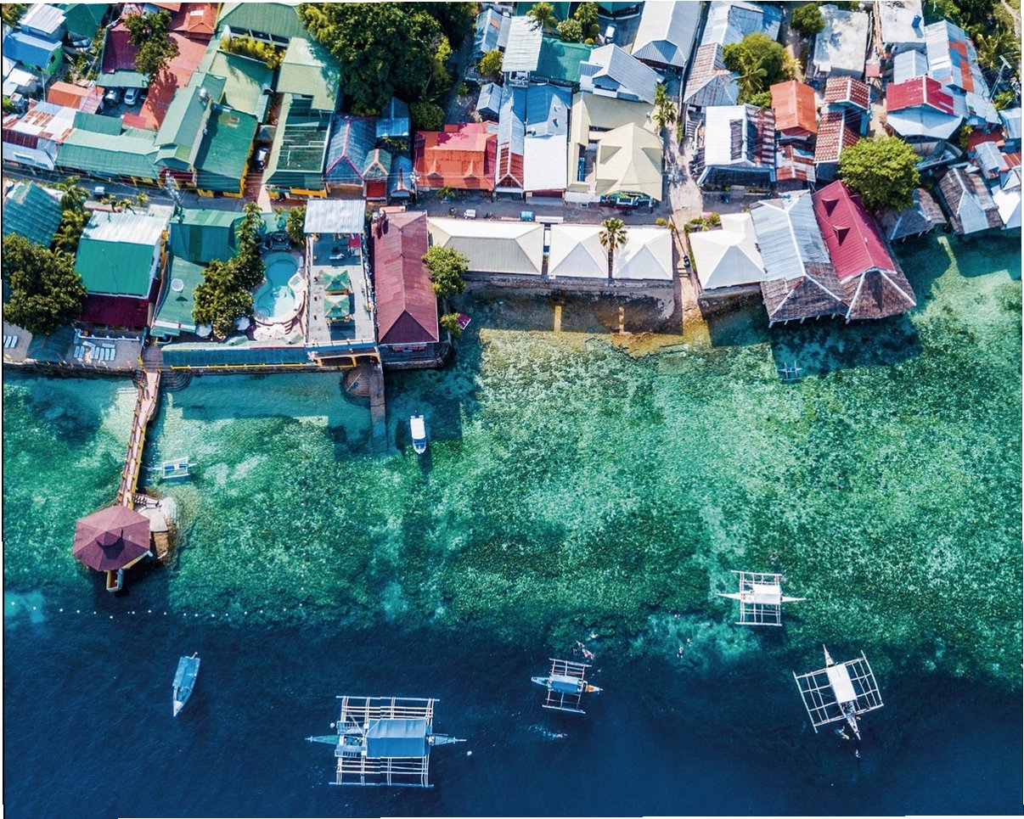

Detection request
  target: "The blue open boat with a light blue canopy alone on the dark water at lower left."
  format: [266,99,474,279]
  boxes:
[171,651,198,718]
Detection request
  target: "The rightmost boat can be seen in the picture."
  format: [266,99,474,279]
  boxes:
[793,645,886,741]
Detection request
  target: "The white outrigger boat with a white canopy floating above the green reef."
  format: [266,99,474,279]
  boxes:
[718,571,808,626]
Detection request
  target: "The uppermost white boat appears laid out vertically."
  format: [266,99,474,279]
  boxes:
[410,410,426,455]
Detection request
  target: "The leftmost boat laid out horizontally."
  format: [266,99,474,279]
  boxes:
[143,457,199,477]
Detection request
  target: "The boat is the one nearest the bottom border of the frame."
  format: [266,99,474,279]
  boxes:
[304,697,469,786]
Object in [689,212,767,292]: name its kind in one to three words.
building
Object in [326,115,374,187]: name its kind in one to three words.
house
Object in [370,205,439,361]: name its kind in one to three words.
building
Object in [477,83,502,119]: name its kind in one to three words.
house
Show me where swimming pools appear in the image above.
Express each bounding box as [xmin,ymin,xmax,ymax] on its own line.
[250,251,304,323]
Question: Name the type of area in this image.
residential area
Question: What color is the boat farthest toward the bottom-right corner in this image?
white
